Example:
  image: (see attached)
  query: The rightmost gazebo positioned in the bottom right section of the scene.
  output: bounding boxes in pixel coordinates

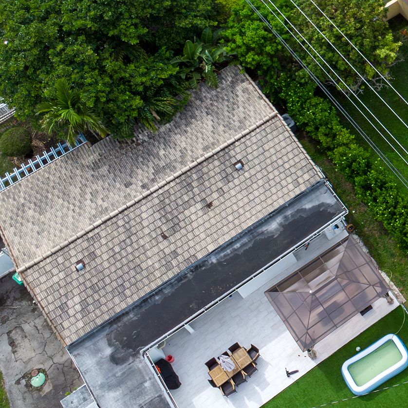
[266,236,397,362]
